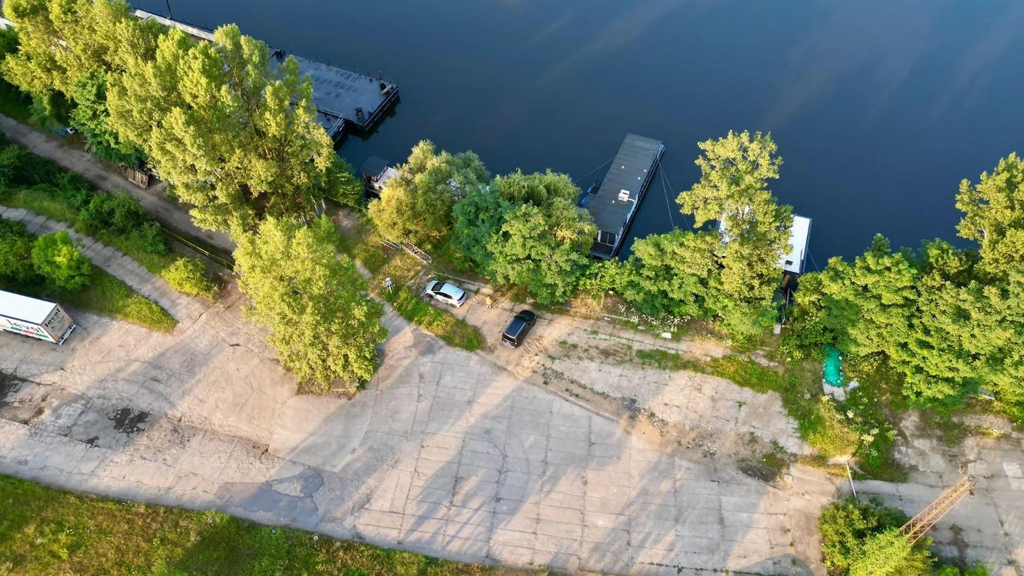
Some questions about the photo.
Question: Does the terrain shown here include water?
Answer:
Yes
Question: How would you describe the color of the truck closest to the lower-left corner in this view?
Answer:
white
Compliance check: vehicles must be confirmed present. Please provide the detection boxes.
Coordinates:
[0,288,79,346]
[422,276,470,307]
[499,302,540,347]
